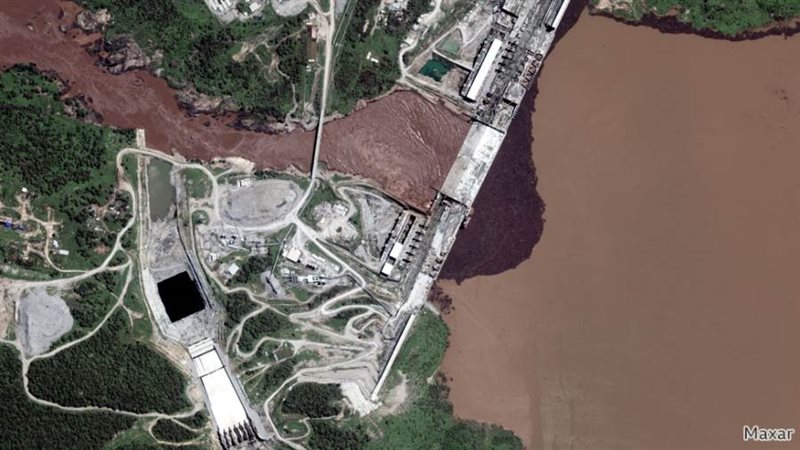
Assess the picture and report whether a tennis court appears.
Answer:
No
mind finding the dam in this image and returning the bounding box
[371,0,571,401]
